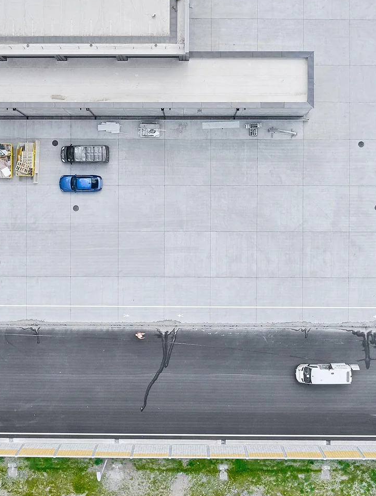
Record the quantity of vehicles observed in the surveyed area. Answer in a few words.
3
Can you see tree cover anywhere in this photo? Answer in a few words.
No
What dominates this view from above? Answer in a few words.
paved ground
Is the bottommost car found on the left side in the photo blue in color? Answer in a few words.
Yes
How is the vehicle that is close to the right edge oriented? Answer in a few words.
horizontally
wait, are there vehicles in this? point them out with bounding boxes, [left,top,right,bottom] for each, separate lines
[60,173,103,194]
[295,363,360,386]
[61,143,110,165]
